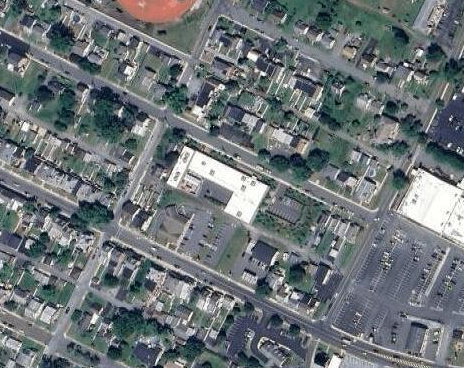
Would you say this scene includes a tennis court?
No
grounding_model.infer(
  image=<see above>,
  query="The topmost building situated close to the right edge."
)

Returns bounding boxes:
[412,0,445,34]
